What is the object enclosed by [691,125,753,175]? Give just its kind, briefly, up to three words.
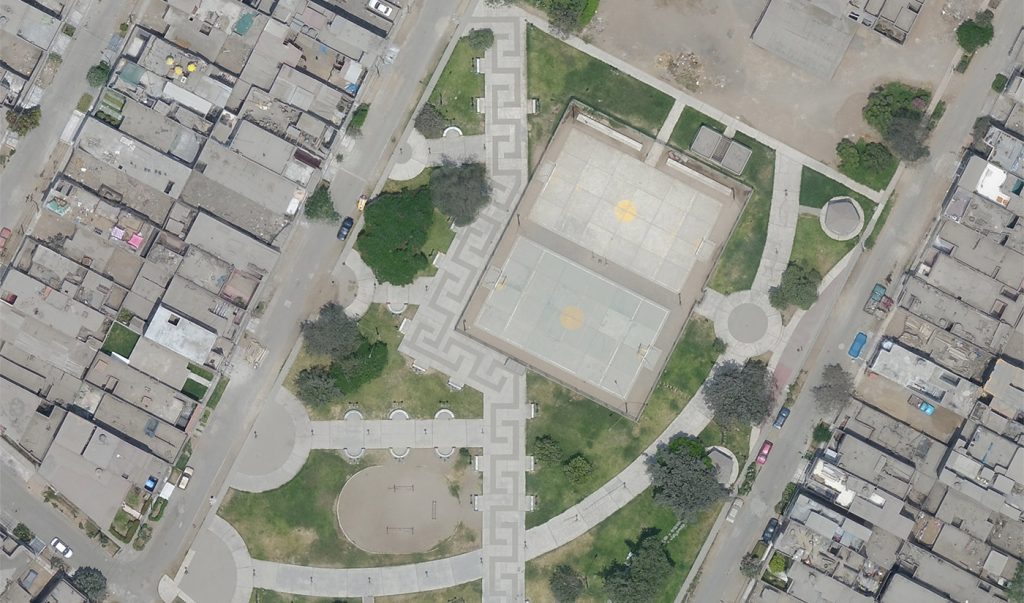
building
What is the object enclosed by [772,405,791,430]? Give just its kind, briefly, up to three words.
car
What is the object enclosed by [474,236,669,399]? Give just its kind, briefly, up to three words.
sports court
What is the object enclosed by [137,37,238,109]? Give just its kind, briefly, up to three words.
house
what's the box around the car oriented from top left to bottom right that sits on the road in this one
[48,536,74,560]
